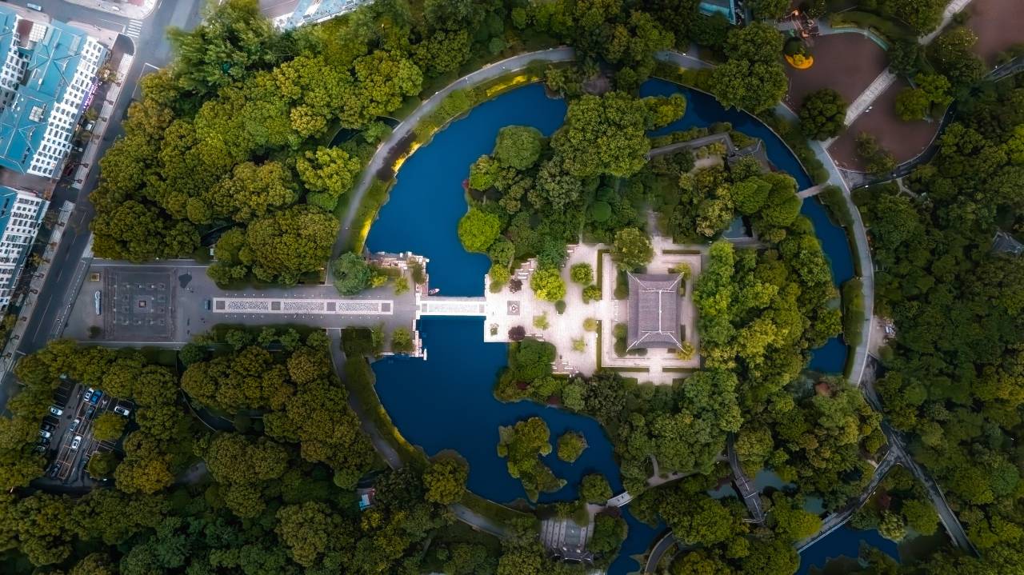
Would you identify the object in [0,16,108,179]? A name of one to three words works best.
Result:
building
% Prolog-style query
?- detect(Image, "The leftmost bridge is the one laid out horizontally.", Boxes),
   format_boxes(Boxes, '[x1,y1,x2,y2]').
[415,297,487,316]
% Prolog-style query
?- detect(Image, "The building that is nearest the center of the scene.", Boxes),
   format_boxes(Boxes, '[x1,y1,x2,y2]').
[623,271,685,353]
